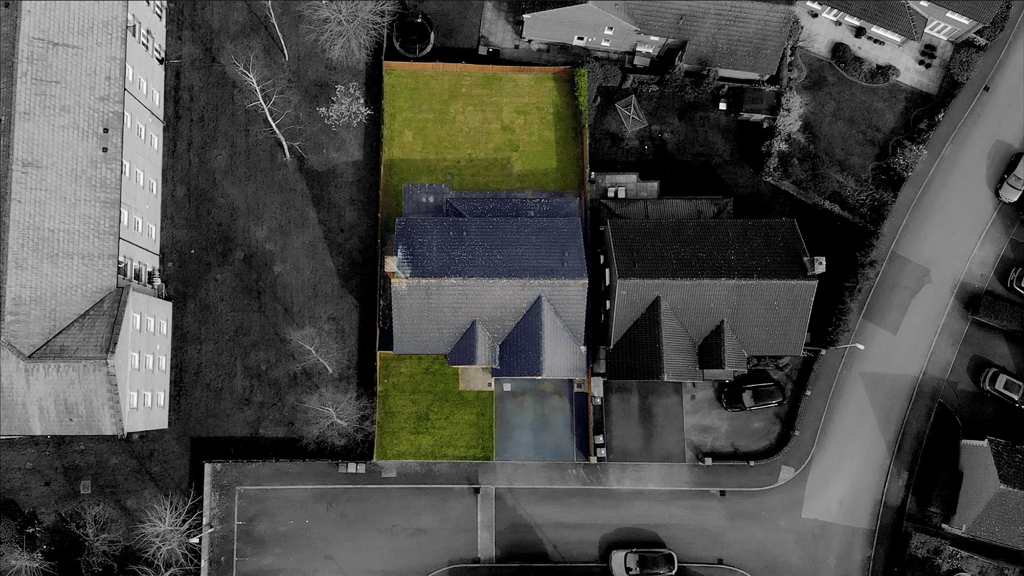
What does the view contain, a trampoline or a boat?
trampoline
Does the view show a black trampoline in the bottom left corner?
No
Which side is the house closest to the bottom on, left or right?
right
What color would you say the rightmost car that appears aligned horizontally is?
black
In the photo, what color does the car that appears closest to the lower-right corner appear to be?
black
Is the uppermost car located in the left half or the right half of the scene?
right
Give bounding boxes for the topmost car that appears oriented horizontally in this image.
[720,379,786,413]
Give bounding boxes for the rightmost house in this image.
[935,436,1024,541]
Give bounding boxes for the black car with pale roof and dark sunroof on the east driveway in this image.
[976,364,1024,411]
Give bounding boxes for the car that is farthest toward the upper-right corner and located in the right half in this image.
[999,148,1024,202]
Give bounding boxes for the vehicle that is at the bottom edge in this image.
[609,546,677,576]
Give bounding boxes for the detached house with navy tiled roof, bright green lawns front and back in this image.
[384,197,591,379]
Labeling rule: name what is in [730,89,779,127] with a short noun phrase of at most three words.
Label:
shed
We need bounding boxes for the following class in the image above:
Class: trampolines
[392,12,431,60]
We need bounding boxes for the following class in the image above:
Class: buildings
[519,0,795,80]
[798,0,1009,49]
[598,198,827,381]
[935,436,1024,541]
[730,89,779,127]
[0,0,172,437]
[384,197,591,379]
